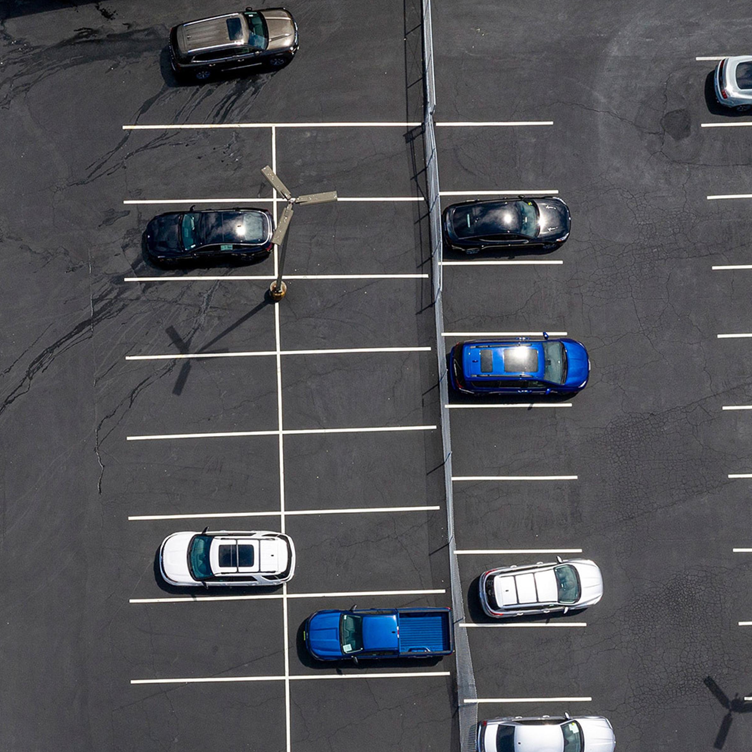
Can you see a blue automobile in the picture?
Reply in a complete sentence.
Yes, a blue automobile appears in the view.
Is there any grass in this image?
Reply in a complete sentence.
No, no grass is visible.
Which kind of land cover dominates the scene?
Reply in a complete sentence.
What you mostly see from above here is paved ground.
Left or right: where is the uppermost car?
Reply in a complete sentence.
You can find the uppermost car on the left side of the picture.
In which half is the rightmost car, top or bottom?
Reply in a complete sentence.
Seen from above, the rightmost car lies in the top half of the view.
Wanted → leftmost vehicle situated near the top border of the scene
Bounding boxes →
[169,5,299,81]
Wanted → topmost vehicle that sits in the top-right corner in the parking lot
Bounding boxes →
[714,58,752,115]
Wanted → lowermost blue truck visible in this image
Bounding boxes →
[305,601,455,665]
